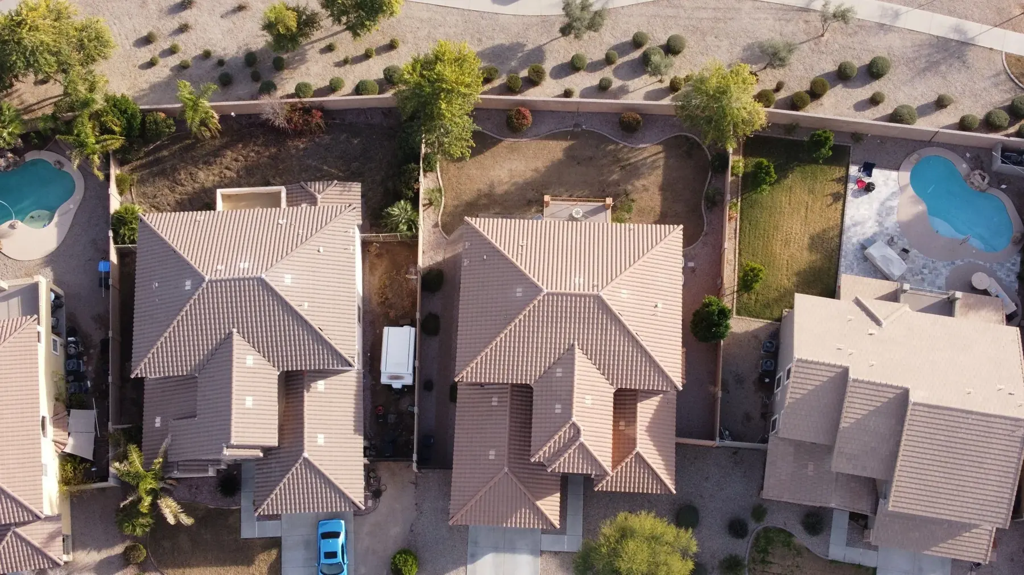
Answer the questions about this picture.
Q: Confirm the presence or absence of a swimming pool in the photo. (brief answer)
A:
Yes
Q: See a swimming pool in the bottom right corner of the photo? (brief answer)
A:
No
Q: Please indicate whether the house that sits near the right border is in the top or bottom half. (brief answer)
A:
bottom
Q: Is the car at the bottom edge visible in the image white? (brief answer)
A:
No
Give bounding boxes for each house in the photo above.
[129,177,365,515]
[448,197,687,530]
[759,274,1024,563]
[0,276,85,571]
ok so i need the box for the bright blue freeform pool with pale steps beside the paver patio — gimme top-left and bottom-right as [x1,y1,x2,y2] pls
[910,154,1014,253]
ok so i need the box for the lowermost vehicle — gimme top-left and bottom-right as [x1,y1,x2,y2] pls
[313,516,348,575]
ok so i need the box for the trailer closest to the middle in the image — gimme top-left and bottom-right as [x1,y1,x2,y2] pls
[381,328,414,401]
